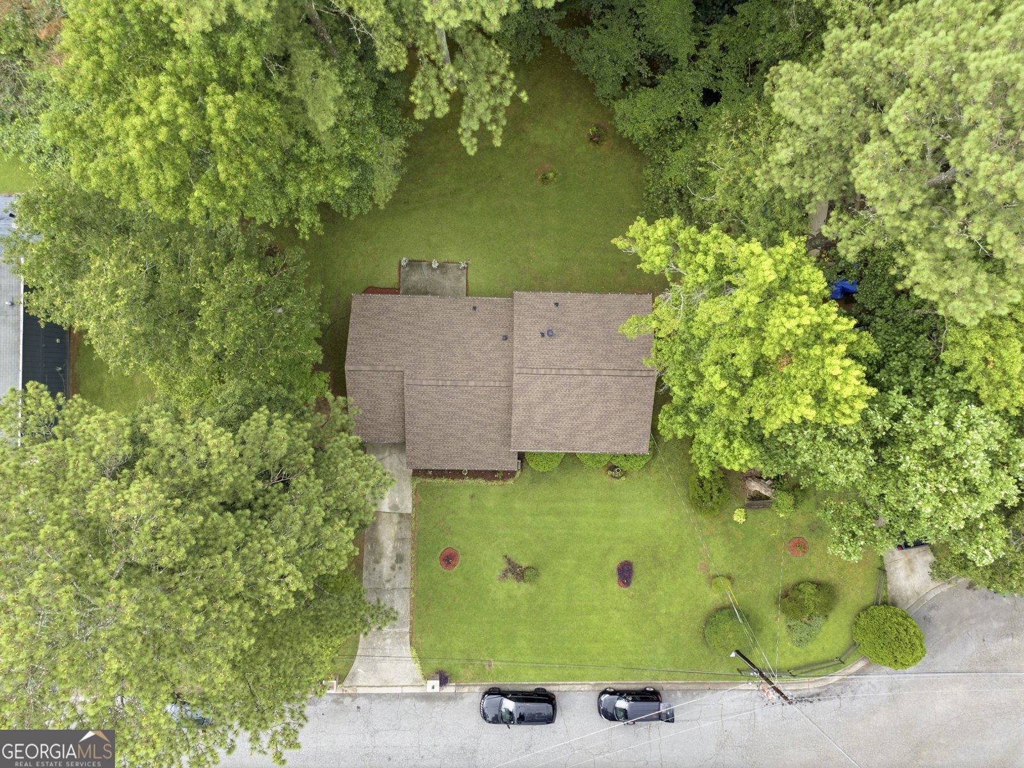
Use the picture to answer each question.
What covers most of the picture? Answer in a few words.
trees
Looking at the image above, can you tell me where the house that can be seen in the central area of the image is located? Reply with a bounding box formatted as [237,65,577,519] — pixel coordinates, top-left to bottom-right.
[344,289,656,473]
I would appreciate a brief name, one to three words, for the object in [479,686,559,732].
car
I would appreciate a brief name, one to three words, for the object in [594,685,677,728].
car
